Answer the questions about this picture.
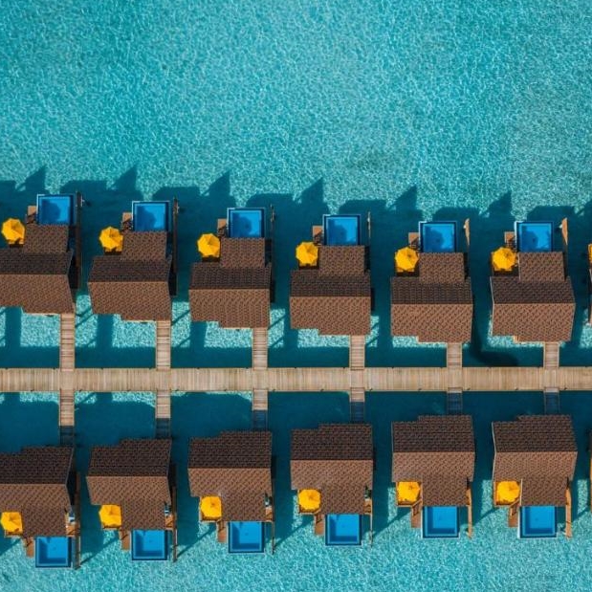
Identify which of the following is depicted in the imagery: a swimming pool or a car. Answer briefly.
swimming pool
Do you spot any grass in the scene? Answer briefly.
No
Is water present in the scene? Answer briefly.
Yes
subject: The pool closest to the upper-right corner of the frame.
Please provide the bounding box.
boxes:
[514,222,554,256]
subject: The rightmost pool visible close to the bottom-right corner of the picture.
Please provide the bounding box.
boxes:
[518,502,557,539]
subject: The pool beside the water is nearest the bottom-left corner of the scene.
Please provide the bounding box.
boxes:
[31,533,72,569]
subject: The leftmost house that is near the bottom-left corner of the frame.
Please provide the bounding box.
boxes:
[0,446,83,573]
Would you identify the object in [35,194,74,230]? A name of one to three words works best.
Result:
swimming pool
